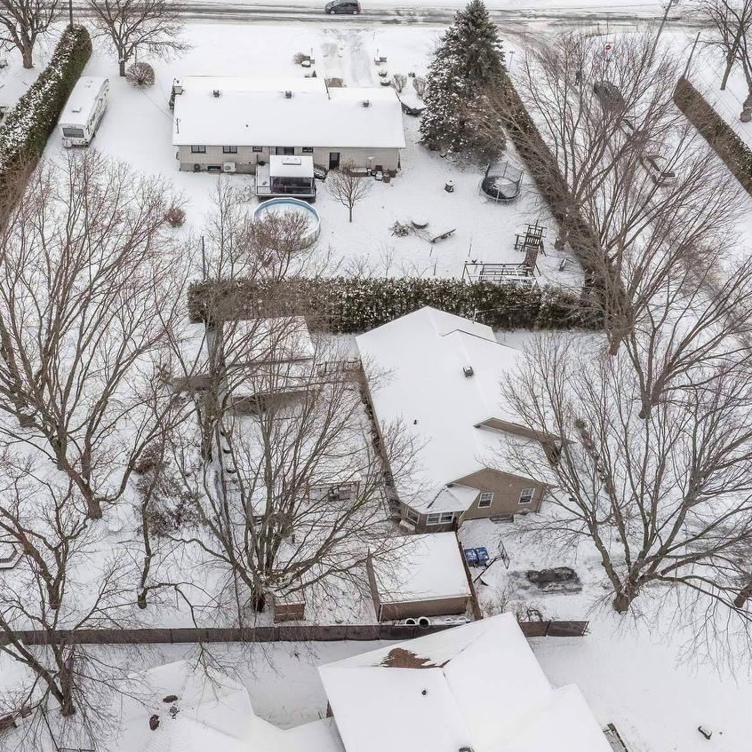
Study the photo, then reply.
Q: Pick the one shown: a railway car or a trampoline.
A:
trampoline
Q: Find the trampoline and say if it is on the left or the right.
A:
right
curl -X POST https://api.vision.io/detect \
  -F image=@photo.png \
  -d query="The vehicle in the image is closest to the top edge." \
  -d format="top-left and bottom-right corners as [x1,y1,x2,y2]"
[323,0,358,14]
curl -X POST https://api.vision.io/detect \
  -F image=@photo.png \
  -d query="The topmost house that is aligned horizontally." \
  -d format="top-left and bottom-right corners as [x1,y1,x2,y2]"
[174,72,407,174]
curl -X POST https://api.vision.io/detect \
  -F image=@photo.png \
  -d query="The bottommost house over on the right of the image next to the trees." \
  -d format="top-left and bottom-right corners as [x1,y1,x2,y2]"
[318,614,615,752]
